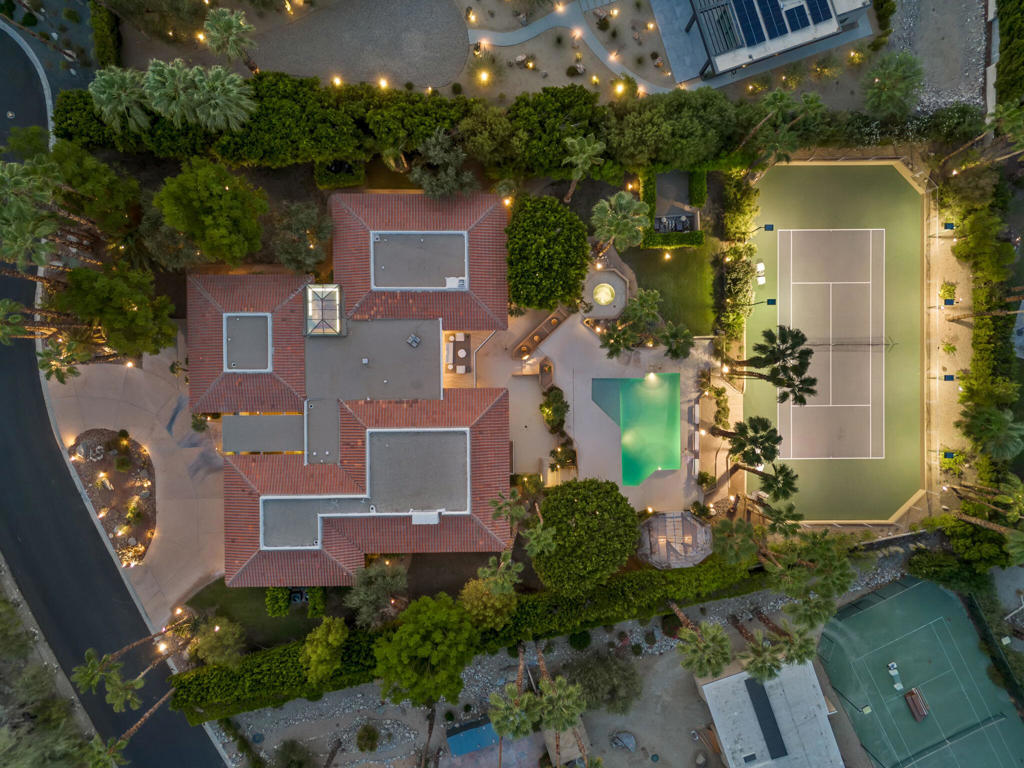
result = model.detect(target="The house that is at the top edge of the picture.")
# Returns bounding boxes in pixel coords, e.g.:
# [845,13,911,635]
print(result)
[687,0,872,79]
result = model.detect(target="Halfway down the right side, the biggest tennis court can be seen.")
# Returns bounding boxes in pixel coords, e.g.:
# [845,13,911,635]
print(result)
[739,158,927,527]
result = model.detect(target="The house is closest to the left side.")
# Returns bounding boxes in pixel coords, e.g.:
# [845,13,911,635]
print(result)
[185,191,513,588]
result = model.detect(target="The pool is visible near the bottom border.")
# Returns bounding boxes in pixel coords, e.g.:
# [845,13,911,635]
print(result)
[447,713,500,757]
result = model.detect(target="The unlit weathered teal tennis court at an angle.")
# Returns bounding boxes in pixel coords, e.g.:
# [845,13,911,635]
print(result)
[818,583,1024,768]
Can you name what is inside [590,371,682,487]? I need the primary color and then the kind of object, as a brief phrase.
green swimming pool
